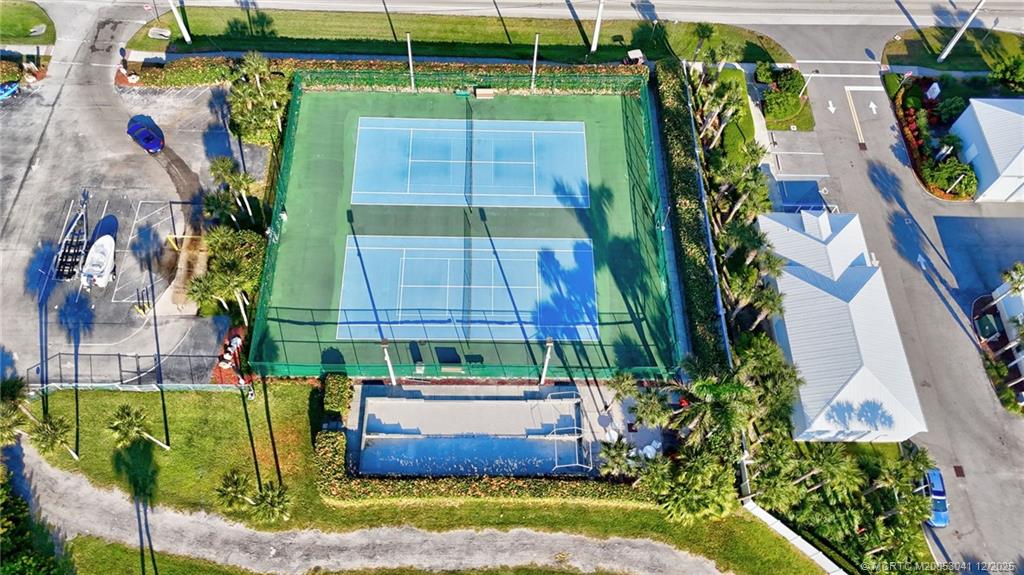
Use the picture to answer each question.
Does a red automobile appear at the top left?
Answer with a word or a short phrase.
No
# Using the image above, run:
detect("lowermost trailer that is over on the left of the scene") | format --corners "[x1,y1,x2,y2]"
[60,200,92,265]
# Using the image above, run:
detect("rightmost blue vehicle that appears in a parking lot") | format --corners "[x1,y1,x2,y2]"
[126,121,165,153]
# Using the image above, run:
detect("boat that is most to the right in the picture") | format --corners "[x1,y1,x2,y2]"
[80,235,115,296]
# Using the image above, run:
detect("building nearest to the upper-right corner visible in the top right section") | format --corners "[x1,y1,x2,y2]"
[952,100,1024,202]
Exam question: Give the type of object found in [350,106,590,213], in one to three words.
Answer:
tennis court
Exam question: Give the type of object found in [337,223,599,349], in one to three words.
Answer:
tennis court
